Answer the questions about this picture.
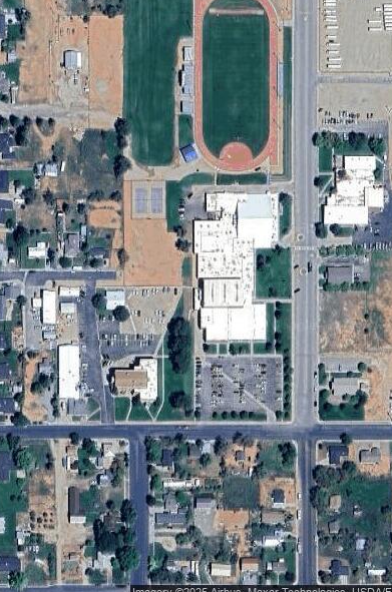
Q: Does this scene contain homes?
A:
Yes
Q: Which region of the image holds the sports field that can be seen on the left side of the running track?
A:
top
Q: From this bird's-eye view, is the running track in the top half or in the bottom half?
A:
top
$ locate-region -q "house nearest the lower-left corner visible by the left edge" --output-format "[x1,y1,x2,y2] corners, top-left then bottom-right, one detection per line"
[0,557,22,571]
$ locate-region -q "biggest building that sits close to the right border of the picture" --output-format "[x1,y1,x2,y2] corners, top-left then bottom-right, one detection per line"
[324,156,384,224]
